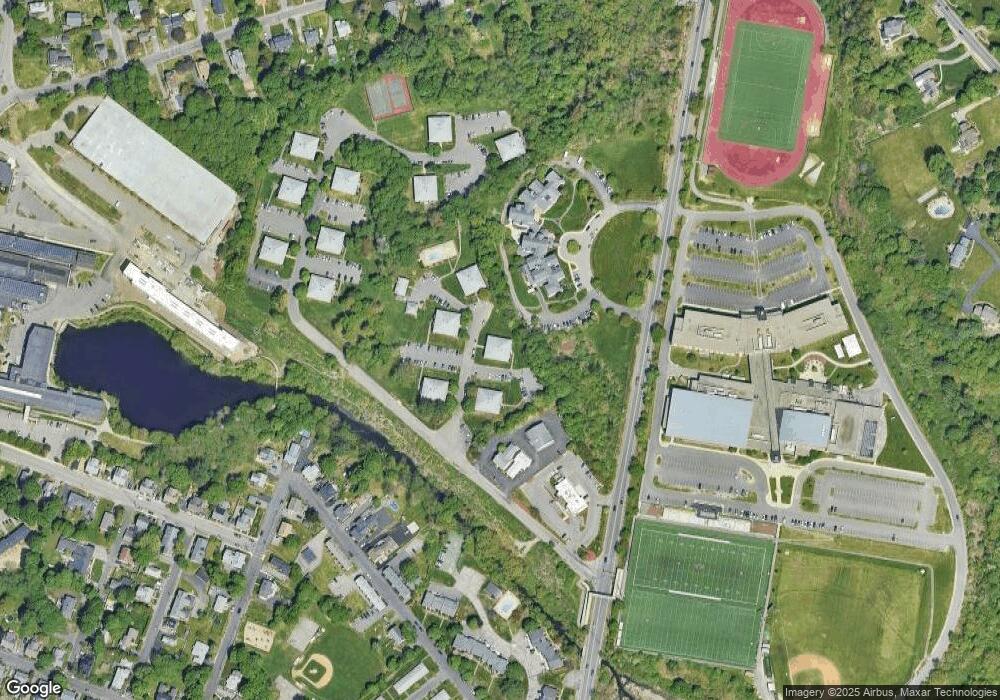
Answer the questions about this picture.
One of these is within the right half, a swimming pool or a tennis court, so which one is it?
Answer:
swimming pool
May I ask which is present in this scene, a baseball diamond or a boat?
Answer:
baseball diamond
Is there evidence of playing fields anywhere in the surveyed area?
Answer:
Yes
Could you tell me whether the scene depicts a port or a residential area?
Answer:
residential area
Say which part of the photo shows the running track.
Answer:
top right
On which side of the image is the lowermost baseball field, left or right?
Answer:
left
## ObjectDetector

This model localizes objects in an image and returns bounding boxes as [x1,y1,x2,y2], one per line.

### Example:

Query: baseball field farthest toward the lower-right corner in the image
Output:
[763,548,927,700]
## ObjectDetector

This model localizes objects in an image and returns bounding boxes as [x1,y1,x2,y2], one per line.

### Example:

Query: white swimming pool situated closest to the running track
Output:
[929,195,954,218]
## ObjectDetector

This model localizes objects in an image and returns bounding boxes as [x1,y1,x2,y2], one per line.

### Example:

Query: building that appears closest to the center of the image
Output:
[483,335,513,361]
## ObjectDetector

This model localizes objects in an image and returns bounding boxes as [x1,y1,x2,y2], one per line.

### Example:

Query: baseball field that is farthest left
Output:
[292,653,336,700]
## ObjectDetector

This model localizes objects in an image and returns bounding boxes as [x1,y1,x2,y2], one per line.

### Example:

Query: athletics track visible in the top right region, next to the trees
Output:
[703,0,832,187]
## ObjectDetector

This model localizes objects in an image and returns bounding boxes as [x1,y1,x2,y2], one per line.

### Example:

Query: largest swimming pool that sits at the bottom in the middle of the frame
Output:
[494,592,521,620]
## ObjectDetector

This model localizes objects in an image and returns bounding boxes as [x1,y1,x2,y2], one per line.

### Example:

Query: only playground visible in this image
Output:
[244,622,274,651]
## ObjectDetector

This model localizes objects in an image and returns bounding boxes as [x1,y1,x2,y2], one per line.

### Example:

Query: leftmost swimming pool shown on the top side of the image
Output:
[420,240,457,267]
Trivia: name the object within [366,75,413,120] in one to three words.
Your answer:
tennis court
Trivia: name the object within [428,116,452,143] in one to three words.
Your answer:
building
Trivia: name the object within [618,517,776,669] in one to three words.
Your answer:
sports field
